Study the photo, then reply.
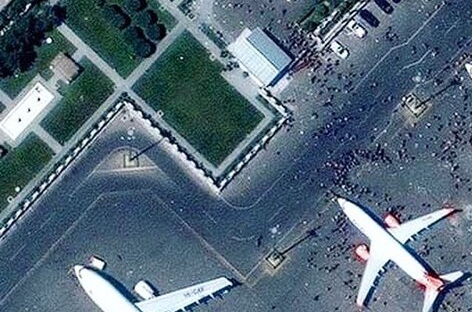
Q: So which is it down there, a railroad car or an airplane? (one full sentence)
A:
Of the two, only an airplane appears.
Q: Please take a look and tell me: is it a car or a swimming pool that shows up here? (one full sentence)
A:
Looking from above, you can make out a car.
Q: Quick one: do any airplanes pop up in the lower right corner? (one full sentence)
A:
Yes, I can see an airplane in the lower right corner.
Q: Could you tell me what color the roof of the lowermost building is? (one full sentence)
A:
The color of the roof on the lowermost building is white.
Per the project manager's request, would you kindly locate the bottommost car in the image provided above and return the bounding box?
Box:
[330,39,350,58]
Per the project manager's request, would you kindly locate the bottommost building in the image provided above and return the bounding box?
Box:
[0,80,55,140]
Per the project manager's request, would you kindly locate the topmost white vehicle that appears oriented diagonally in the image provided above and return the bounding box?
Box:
[348,19,366,36]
